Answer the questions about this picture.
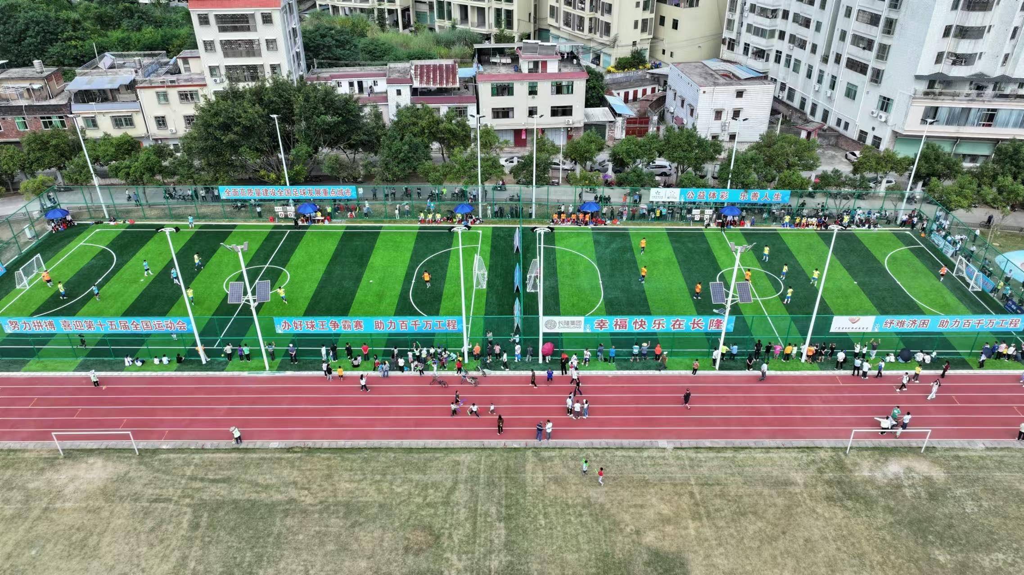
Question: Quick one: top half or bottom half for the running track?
bottom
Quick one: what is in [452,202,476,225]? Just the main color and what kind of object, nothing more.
blue umbrella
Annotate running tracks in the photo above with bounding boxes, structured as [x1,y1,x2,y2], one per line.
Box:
[0,374,1024,441]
